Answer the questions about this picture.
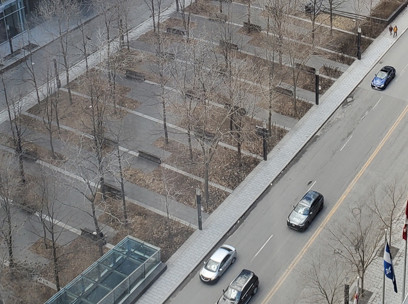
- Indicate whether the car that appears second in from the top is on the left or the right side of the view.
right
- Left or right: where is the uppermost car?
right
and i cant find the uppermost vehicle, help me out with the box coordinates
[368,63,394,87]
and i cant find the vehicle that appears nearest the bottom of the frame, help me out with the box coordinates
[215,267,261,304]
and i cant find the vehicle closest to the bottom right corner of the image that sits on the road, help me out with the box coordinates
[285,191,324,232]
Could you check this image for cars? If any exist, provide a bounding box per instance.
[215,267,261,304]
[194,240,239,286]
[368,63,394,87]
[285,191,324,232]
